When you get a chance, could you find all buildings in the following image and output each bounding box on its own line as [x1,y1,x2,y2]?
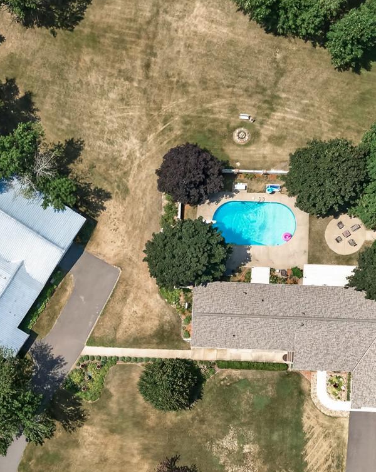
[190,282,376,413]
[0,168,86,377]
